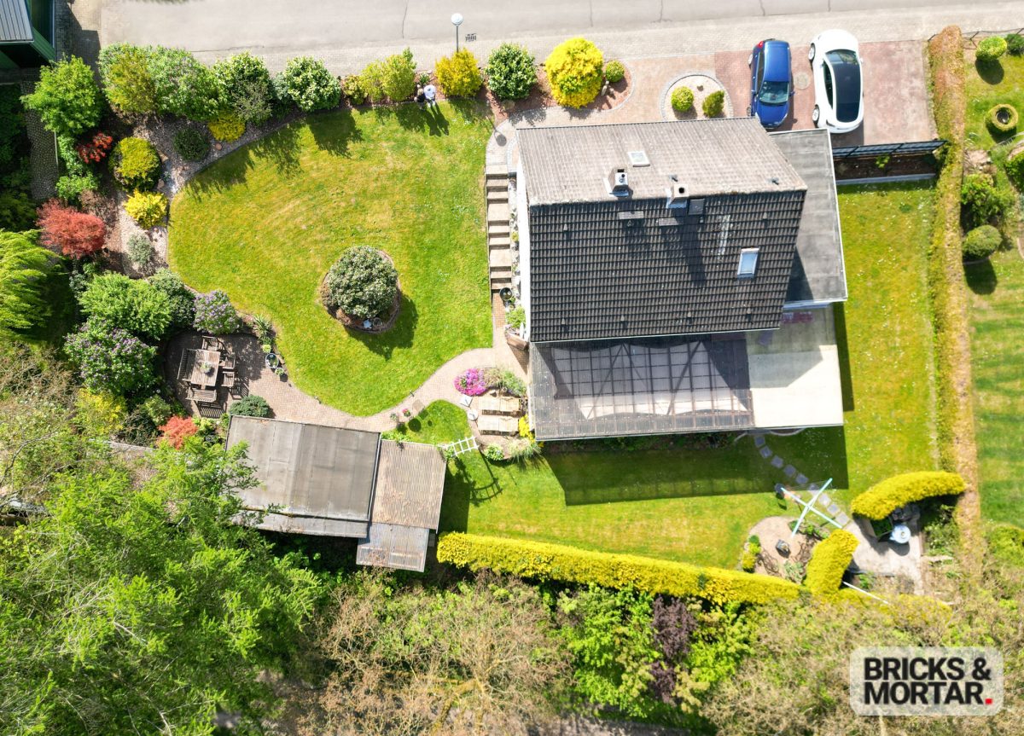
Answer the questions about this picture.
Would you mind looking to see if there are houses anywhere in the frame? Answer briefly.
Yes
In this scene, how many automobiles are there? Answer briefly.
2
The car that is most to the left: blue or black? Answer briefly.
blue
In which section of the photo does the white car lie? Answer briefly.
top right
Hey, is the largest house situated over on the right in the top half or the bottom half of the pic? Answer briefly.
top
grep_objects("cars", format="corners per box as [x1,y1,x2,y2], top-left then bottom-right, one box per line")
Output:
[805,30,866,136]
[742,39,796,131]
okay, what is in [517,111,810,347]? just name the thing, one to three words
house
